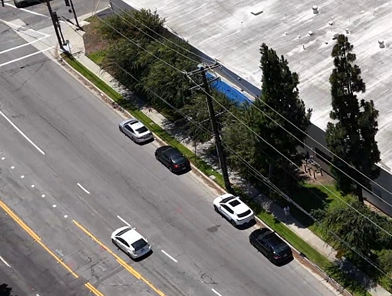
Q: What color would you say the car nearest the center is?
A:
black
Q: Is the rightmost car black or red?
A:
black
